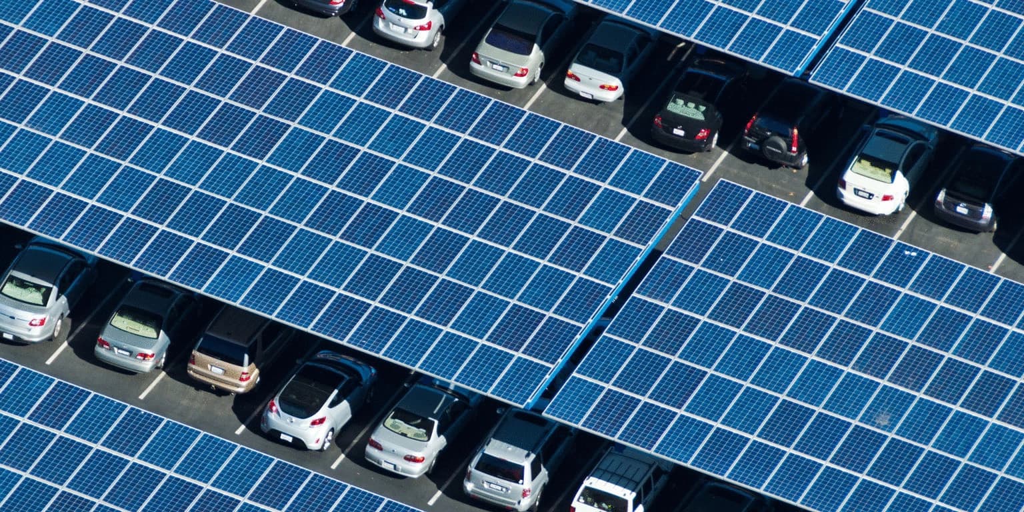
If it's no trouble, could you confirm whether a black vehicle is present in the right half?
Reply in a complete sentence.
Yes, there is a black vehicle in the right half.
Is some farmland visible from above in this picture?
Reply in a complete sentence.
No, there is no farmland in the image.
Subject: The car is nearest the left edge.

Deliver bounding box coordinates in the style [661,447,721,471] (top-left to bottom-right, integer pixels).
[0,237,112,347]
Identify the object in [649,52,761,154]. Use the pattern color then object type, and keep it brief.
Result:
black car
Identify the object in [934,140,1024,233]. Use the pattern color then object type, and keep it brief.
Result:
black car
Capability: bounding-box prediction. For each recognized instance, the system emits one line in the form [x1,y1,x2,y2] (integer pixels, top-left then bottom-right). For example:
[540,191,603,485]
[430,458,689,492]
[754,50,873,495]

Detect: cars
[561,13,663,102]
[463,396,588,512]
[683,474,777,512]
[92,274,213,376]
[469,0,582,90]
[263,350,377,453]
[186,302,305,393]
[649,52,761,154]
[362,372,482,481]
[377,0,478,51]
[567,439,682,512]
[934,140,1024,233]
[836,115,944,217]
[741,69,848,168]
[0,237,112,347]
[287,0,356,17]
